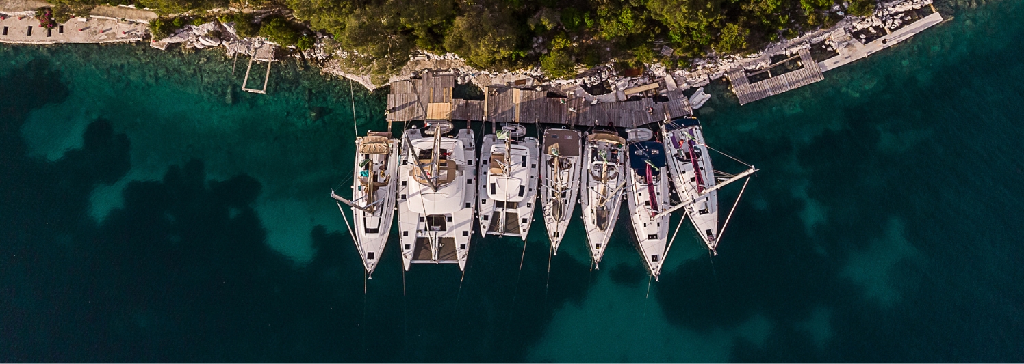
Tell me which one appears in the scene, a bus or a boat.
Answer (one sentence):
The image shows a boat.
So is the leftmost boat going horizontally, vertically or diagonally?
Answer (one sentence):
The leftmost boat runs vertically in the image.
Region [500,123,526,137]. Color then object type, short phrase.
gray boat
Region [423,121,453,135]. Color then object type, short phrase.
gray boat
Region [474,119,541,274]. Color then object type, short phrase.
white boat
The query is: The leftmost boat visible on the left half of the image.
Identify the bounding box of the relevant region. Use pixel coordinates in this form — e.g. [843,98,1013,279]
[331,81,405,300]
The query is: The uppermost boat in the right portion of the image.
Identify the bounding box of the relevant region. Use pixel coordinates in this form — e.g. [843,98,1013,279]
[689,83,713,110]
